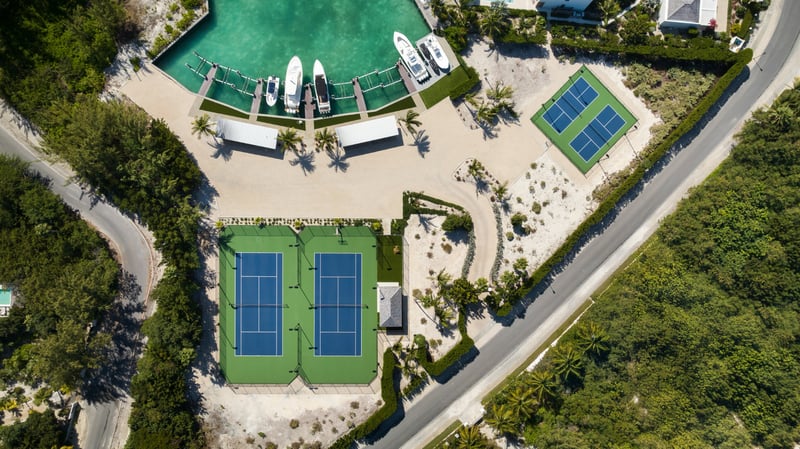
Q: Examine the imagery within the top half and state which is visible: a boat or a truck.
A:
boat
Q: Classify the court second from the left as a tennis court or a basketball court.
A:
tennis court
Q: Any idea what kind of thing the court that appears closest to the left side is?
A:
tennis court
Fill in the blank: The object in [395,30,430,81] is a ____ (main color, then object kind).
white boat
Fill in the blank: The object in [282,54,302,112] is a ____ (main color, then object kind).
white boat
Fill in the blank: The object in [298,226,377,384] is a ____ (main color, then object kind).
green tennis court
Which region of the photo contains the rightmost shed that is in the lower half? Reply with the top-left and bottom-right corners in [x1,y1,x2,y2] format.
[377,280,402,326]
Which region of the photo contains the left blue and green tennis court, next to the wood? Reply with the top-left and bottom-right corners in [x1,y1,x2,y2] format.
[219,226,298,384]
